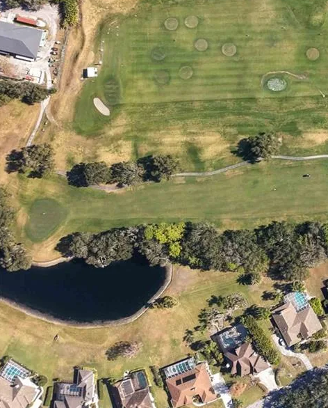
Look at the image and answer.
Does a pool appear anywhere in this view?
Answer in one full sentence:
Yes, the photo shows a pool.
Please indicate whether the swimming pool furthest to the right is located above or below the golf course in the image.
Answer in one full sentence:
In the image, the swimming pool furthest to the right appears below the golf course.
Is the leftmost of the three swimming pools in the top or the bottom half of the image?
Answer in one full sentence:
You can find the leftmost of the three swimming pools in the bottom half.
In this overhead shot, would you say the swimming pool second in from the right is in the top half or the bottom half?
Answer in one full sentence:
The bottom half of the photo is where the swimming pool second in from the right is.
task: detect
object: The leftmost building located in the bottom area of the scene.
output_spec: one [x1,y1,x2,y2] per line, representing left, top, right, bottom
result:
[0,359,42,408]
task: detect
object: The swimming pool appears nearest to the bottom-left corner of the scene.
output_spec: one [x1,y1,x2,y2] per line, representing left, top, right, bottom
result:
[0,360,29,381]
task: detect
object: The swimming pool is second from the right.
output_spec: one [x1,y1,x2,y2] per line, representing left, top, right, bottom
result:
[165,358,195,378]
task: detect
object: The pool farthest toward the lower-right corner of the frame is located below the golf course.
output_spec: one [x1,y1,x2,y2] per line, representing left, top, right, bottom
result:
[285,290,310,312]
